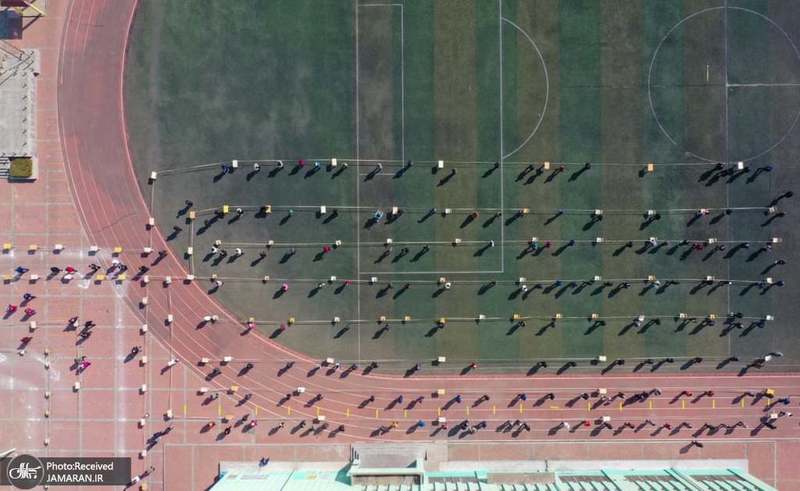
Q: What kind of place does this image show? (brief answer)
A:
sports ground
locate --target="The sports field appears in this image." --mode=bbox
[122,0,800,377]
